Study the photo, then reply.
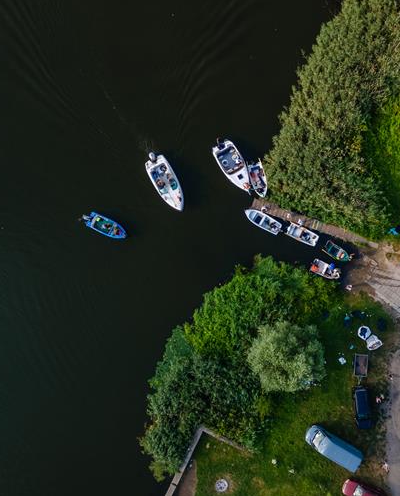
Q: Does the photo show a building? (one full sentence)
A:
No, the frame has no building in it.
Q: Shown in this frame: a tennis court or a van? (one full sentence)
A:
This aerial view contains a van.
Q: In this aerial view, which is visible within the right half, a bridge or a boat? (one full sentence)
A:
The feature located within the right half is a boat.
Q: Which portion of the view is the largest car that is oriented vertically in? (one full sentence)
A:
The largest car that is oriented vertically sits in the bottom right section of the image.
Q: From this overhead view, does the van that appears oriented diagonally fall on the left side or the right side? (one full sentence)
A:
The van that appears oriented diagonally sits on the right side.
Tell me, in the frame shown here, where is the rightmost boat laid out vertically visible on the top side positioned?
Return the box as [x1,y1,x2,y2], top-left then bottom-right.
[245,160,266,197]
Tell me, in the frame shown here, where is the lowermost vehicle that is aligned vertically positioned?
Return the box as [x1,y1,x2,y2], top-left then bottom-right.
[351,384,374,429]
